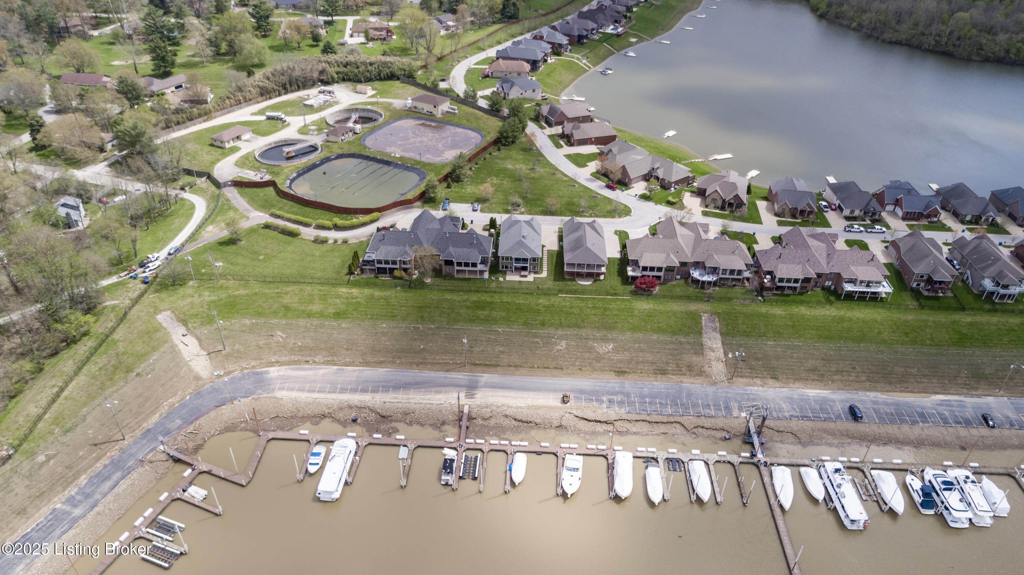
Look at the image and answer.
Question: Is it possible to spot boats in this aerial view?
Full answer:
Yes, there's a boat here.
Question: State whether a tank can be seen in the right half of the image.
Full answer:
No, no tank can be made out in the right half of the image.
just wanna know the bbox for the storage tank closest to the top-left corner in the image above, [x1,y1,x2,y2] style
[254,137,321,167]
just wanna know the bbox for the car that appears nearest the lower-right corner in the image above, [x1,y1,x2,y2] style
[982,410,999,426]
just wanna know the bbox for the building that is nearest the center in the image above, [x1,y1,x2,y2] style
[498,215,543,272]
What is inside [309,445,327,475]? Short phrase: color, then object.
white boat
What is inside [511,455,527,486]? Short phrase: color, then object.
white boat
